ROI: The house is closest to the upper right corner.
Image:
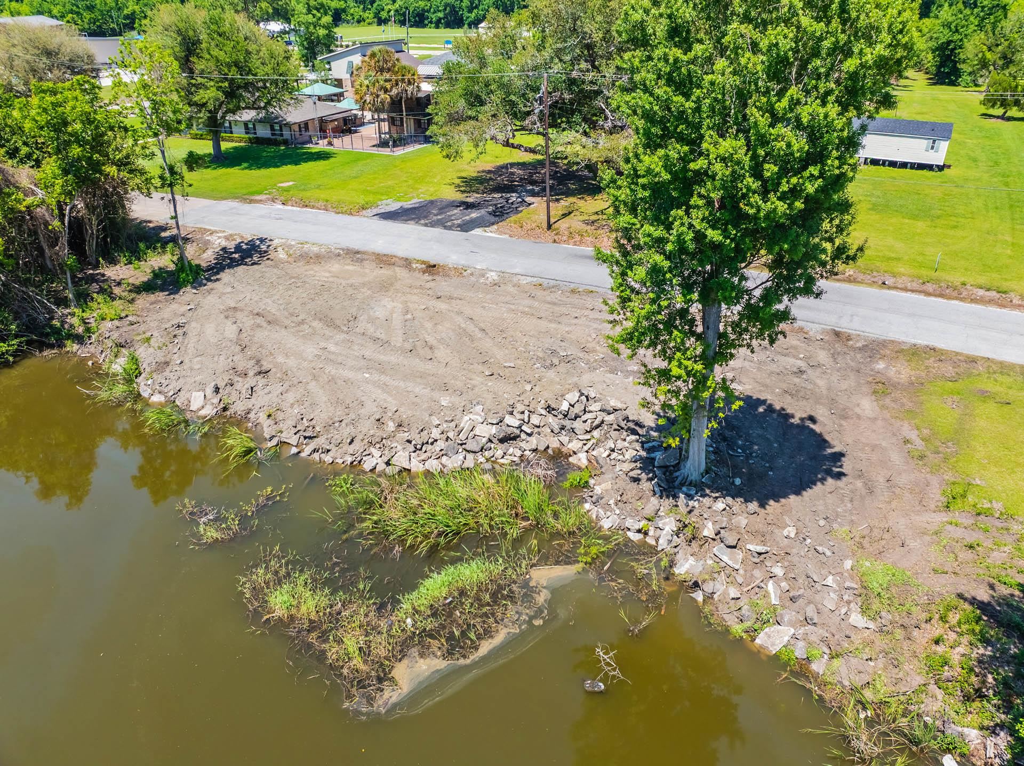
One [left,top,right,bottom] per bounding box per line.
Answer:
[859,114,956,171]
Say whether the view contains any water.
Yes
